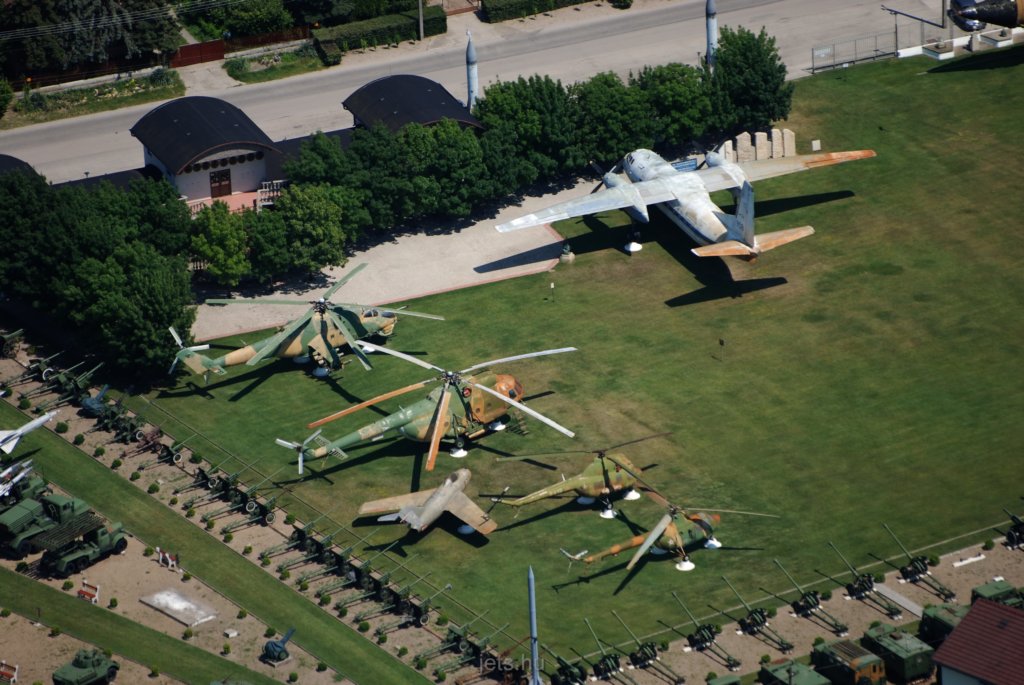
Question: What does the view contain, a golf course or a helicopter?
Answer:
helicopter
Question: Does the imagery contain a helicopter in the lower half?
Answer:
Yes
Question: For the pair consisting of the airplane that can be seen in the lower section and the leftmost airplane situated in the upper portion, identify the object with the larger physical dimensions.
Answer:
the leftmost airplane situated in the upper portion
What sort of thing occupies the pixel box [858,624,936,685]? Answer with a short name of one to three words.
van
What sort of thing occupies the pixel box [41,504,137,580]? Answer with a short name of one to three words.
truck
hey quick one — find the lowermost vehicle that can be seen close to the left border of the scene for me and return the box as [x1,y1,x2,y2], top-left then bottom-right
[47,647,119,685]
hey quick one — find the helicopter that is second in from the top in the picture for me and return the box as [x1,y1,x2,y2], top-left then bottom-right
[280,342,578,475]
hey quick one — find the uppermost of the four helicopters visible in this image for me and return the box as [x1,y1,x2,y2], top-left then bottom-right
[161,264,442,382]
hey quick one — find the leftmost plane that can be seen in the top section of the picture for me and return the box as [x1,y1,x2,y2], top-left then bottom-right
[494,135,878,260]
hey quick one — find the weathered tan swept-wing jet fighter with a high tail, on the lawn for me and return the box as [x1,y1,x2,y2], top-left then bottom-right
[357,465,497,535]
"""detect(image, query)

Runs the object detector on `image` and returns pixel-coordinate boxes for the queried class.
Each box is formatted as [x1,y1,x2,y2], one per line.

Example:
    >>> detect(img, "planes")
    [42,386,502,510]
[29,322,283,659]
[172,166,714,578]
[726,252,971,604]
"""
[964,0,1024,27]
[357,465,497,535]
[494,135,878,260]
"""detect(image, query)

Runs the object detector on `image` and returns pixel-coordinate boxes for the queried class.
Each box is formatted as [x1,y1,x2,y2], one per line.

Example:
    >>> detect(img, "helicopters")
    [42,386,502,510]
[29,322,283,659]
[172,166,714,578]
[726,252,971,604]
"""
[485,434,669,520]
[161,264,442,382]
[280,342,578,475]
[567,472,779,575]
